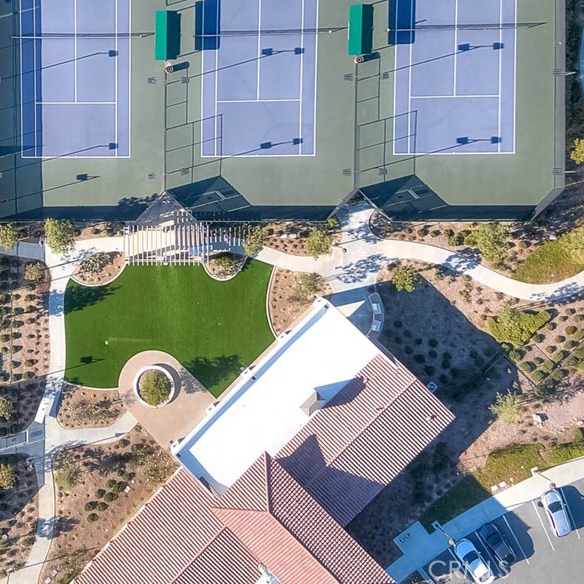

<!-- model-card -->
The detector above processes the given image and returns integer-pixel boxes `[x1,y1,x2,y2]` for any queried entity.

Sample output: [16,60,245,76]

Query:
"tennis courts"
[0,0,167,219]
[354,0,555,219]
[166,0,358,220]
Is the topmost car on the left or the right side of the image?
right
